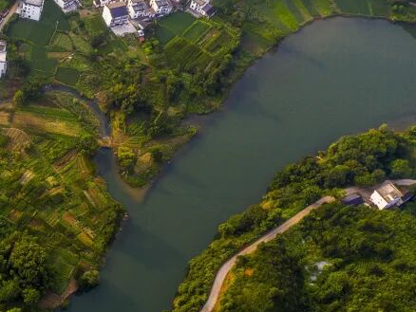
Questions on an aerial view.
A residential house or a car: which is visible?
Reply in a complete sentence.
It is a residential house that can be seen here.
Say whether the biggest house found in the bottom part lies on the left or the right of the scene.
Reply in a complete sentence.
It is on the right.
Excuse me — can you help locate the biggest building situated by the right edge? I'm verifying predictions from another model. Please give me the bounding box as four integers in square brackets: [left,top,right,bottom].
[370,179,408,210]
